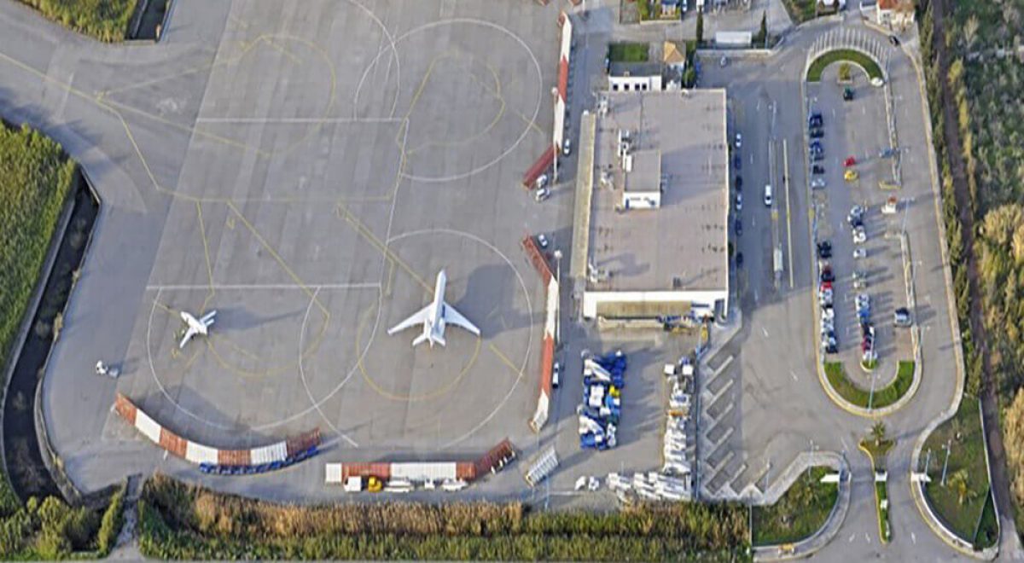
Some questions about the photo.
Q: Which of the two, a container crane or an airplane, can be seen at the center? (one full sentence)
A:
Visible at the center is an airplane.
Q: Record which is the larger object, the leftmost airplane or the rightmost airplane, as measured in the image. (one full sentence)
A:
The larger object is the rightmost airplane, with the leftmost airplane being the smaller of the pair.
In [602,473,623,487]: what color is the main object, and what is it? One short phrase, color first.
white vehicle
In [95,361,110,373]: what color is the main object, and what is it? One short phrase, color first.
white vehicle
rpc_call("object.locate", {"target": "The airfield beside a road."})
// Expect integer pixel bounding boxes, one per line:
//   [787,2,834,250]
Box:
[0,0,727,509]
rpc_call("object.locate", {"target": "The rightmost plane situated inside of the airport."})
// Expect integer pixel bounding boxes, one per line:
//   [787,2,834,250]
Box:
[385,271,481,345]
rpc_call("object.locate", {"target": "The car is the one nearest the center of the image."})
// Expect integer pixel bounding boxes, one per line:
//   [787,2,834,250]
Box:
[537,236,549,248]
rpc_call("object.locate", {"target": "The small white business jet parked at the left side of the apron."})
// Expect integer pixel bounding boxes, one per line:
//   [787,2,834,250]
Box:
[173,312,219,345]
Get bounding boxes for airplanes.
[385,271,481,345]
[173,312,219,345]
